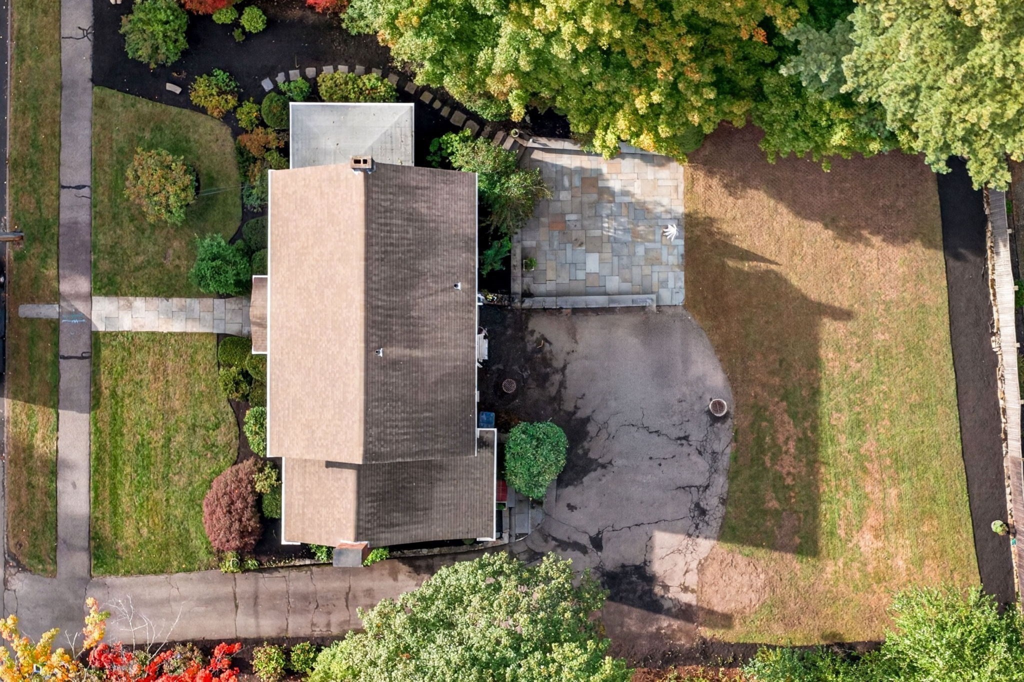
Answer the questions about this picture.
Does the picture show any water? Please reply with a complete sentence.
No, the scene doesn't show any water.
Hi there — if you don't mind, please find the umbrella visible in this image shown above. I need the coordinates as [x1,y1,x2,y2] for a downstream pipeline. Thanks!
[663,225,681,240]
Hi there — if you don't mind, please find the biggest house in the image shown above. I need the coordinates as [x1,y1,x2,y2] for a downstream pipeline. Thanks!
[251,103,496,566]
